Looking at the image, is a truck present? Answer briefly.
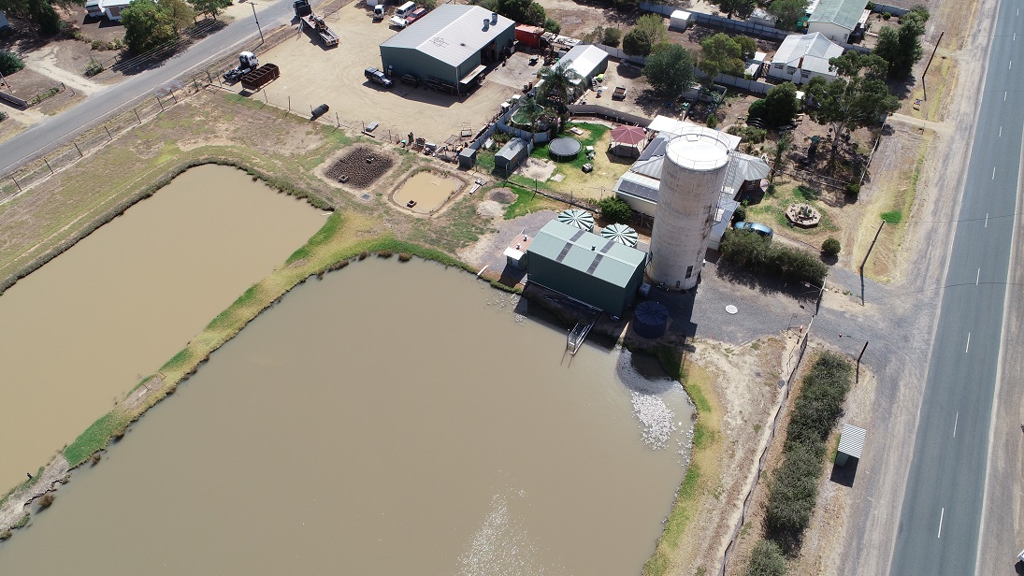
Yes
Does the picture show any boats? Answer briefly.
No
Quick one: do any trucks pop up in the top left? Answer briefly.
Yes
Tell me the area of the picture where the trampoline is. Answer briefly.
top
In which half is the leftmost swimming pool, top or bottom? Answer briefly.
top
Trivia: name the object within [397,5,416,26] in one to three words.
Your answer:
vehicle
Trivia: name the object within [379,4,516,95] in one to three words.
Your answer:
building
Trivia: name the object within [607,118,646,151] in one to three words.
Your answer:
gazebo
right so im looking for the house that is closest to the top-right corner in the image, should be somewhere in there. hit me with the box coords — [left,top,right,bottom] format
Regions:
[805,0,870,43]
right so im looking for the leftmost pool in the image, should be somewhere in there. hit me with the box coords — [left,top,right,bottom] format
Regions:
[510,110,543,136]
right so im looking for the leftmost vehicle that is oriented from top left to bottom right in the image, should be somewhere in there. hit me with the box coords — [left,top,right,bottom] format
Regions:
[282,0,341,44]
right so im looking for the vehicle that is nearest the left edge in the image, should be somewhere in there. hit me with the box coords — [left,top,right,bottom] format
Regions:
[216,53,263,86]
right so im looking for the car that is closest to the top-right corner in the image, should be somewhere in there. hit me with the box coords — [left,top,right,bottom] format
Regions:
[735,221,775,244]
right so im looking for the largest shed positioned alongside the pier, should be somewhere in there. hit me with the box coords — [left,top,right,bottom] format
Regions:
[525,219,649,318]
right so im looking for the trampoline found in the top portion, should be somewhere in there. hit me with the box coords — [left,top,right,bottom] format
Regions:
[549,138,581,160]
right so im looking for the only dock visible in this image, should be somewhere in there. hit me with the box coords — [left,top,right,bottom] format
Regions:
[568,323,607,360]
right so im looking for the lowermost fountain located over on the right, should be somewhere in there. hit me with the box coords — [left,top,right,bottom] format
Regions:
[785,206,820,229]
